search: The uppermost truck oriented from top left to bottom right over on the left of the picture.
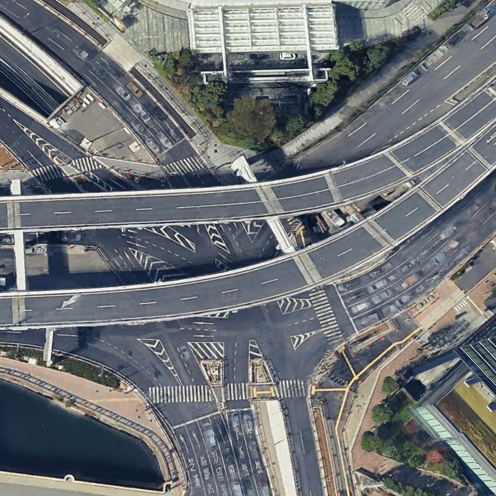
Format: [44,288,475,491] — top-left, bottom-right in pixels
[107,10,129,35]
